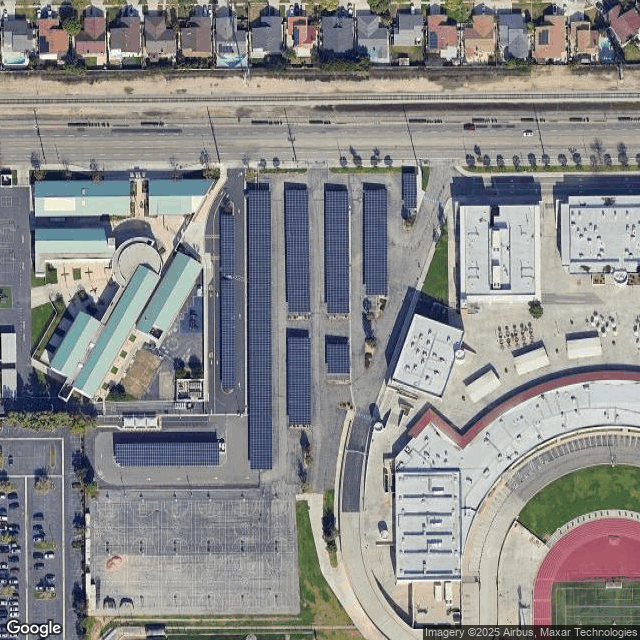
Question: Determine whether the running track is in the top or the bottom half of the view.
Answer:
bottom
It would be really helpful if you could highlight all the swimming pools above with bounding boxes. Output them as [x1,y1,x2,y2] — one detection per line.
[215,52,244,67]
[5,54,26,63]
[600,38,612,64]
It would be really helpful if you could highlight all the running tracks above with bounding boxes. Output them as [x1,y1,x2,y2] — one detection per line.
[533,517,640,640]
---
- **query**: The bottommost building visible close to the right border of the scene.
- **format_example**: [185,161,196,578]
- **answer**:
[396,371,640,591]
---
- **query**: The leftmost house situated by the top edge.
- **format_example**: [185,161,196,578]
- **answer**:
[3,19,34,53]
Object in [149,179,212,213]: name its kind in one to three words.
building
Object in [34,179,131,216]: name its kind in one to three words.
building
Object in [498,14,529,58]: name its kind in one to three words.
house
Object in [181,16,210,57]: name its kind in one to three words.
house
